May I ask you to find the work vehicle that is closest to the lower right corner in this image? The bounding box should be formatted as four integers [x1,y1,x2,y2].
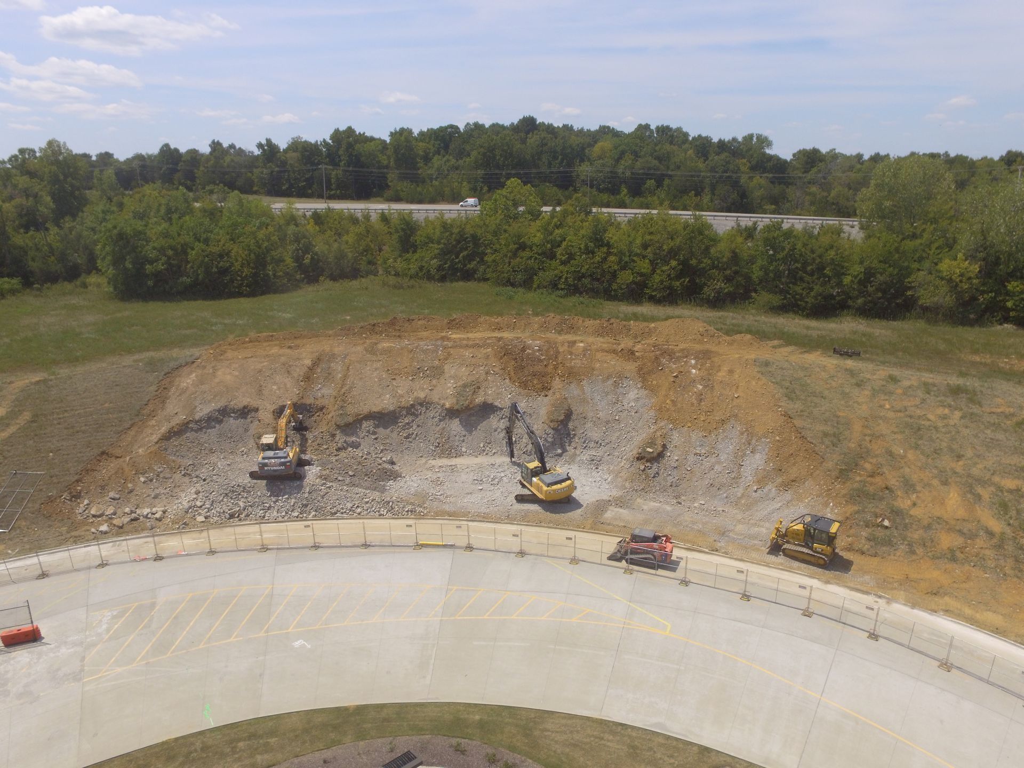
[763,511,848,569]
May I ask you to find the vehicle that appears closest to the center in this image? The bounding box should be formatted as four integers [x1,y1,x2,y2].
[507,400,574,503]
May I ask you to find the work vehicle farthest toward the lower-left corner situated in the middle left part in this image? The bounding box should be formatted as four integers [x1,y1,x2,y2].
[248,405,309,481]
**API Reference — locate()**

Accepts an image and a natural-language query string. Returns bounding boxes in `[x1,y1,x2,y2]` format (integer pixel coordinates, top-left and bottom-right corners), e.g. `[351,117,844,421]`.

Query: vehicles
[460,199,479,209]
[248,405,309,481]
[763,511,848,569]
[507,400,574,503]
[603,525,674,570]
